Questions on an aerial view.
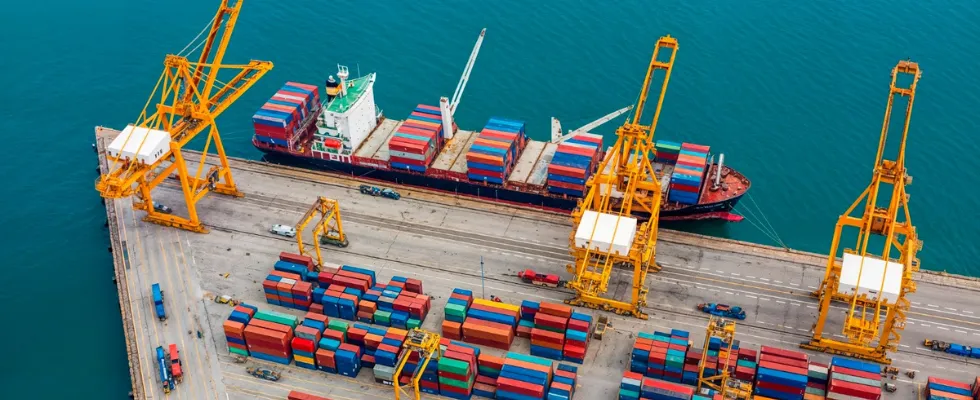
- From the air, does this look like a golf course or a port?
port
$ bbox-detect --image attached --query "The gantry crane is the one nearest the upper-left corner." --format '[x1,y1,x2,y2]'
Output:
[96,0,266,225]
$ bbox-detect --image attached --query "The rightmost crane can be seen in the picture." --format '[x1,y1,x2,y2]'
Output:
[798,59,924,356]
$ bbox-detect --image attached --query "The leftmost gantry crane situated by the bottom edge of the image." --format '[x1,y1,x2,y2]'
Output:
[396,321,447,400]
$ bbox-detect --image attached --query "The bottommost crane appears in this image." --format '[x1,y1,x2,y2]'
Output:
[724,375,753,400]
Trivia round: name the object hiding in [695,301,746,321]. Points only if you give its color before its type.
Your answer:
blue vehicle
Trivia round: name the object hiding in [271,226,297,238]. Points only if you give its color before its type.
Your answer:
white vehicle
